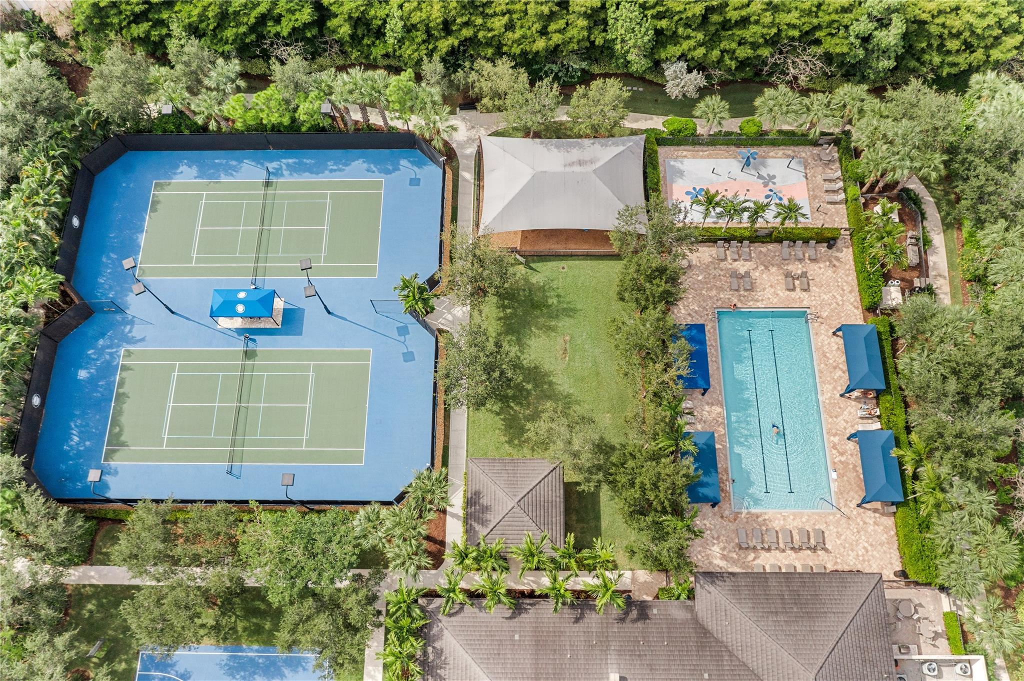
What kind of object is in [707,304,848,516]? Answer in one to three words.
swimming pool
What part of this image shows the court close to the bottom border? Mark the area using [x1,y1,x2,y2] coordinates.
[133,645,340,681]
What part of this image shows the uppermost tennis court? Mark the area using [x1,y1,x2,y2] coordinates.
[136,179,384,278]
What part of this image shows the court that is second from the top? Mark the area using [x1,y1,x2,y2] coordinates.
[102,349,371,464]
